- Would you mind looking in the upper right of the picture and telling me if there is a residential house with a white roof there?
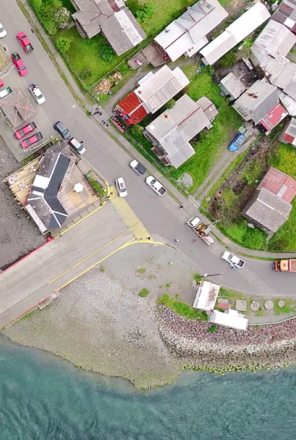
Yes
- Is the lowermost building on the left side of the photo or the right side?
right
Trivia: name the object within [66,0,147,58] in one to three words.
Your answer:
house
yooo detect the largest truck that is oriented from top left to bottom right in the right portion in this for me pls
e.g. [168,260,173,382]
[184,219,213,245]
